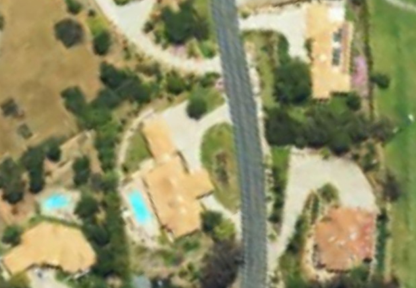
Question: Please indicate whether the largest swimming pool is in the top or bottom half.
bottom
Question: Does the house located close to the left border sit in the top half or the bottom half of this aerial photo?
bottom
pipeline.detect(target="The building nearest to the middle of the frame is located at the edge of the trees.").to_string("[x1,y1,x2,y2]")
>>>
[141,115,213,241]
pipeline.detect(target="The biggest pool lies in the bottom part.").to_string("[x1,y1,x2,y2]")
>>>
[128,189,150,225]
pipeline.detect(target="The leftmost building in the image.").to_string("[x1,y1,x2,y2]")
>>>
[2,219,94,275]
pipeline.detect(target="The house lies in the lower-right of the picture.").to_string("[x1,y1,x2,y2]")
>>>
[315,207,375,271]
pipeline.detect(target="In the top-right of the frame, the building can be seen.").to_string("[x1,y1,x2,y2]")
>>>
[305,3,352,99]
